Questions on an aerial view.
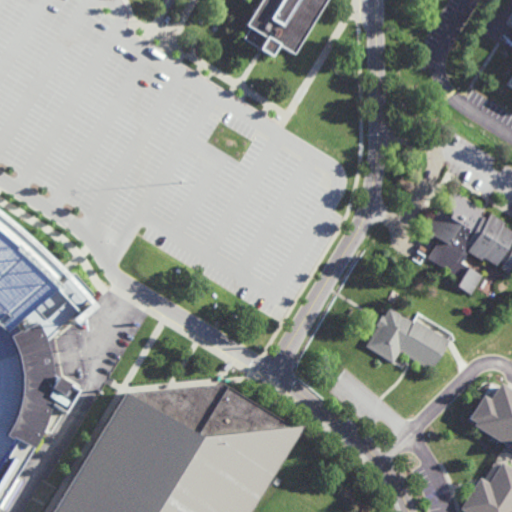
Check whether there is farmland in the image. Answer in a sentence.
No, there is no farmland in the image.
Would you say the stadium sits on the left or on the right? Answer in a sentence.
It is on the left.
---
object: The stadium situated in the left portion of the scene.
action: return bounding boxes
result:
[0,208,100,512]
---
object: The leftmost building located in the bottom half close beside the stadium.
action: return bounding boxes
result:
[54,384,304,512]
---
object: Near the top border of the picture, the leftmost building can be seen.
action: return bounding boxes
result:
[246,0,330,58]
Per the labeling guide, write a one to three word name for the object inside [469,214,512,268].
house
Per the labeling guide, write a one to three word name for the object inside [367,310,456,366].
house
